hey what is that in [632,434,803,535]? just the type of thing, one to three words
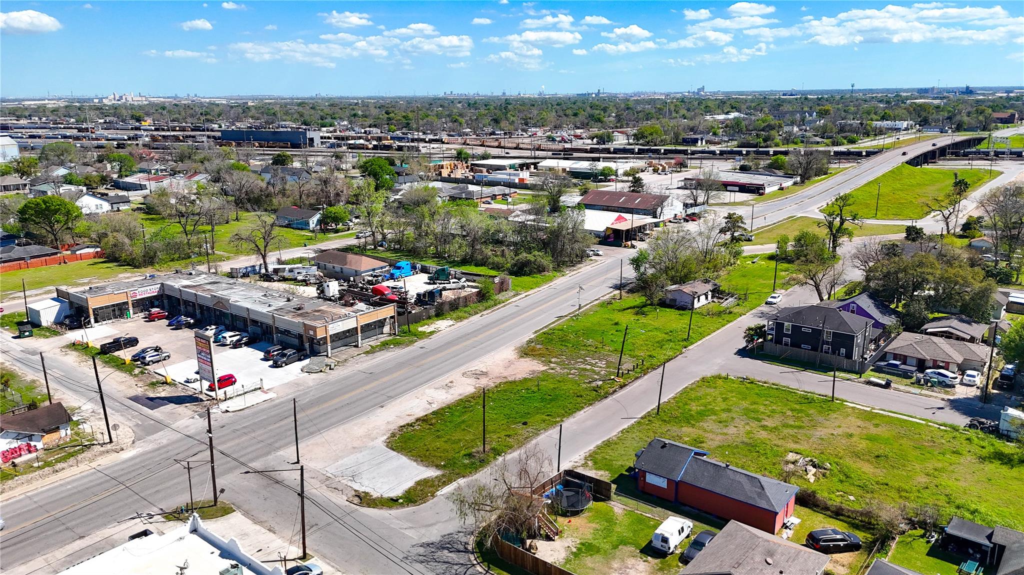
house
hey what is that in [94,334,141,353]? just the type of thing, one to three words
vehicle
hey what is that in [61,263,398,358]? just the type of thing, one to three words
building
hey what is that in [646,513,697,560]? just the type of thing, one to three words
van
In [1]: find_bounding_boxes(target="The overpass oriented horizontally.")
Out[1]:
[854,133,1002,169]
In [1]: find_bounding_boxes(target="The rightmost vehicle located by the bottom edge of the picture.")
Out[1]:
[803,521,870,553]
